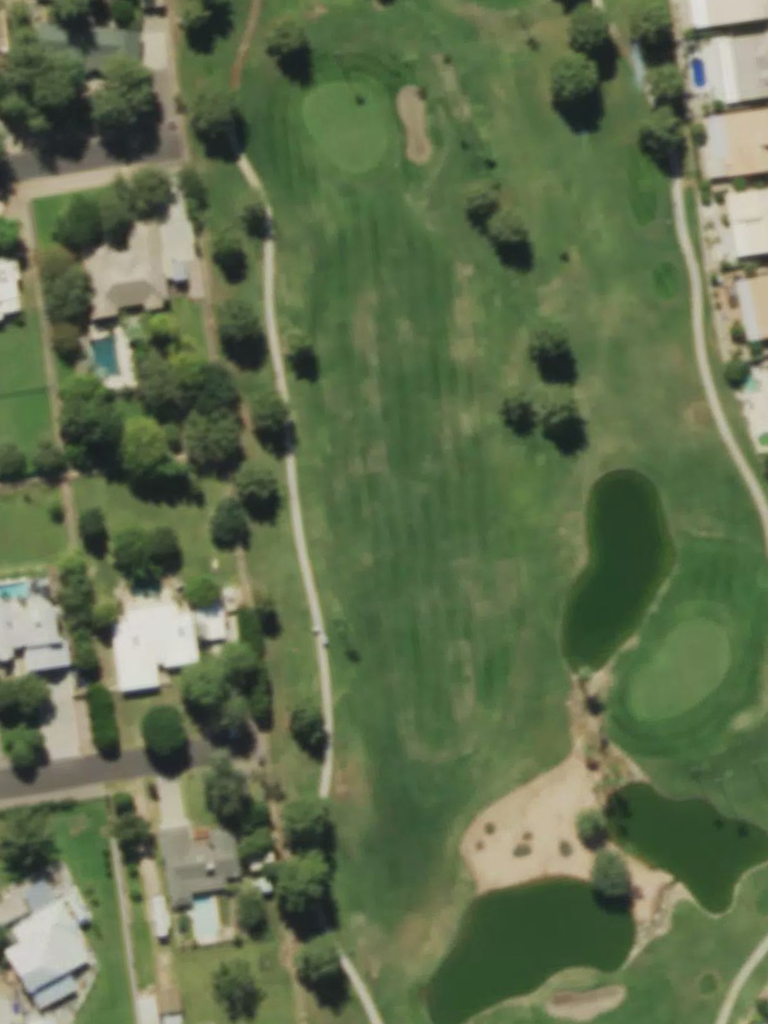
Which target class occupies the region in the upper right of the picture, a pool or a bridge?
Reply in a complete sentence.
Visible in the upper right of the picture is a pool.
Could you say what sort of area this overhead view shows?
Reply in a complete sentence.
This image shows a golf course.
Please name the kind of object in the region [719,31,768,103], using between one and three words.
house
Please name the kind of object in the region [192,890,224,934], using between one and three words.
swimming pool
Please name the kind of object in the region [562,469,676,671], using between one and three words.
pond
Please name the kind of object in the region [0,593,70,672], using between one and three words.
house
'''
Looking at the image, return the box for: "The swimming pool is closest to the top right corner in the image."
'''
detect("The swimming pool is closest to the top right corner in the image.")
[688,55,709,90]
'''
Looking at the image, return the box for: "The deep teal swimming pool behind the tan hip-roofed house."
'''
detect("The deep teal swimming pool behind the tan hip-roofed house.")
[88,334,123,382]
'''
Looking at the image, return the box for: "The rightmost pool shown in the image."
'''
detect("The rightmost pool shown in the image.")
[739,372,767,395]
